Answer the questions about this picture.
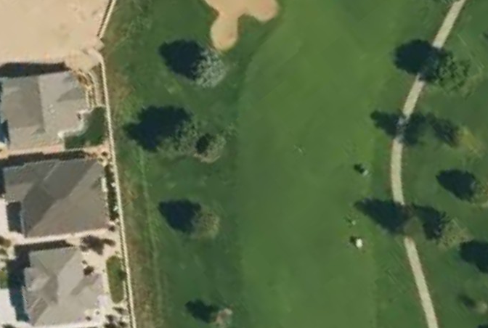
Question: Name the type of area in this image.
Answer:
golf course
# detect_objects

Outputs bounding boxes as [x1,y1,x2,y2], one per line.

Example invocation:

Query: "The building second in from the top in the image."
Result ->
[2,157,110,238]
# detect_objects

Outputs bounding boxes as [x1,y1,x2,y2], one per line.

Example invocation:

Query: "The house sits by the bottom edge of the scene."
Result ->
[22,247,104,327]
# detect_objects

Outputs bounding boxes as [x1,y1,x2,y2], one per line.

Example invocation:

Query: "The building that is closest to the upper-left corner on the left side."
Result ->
[1,72,90,150]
